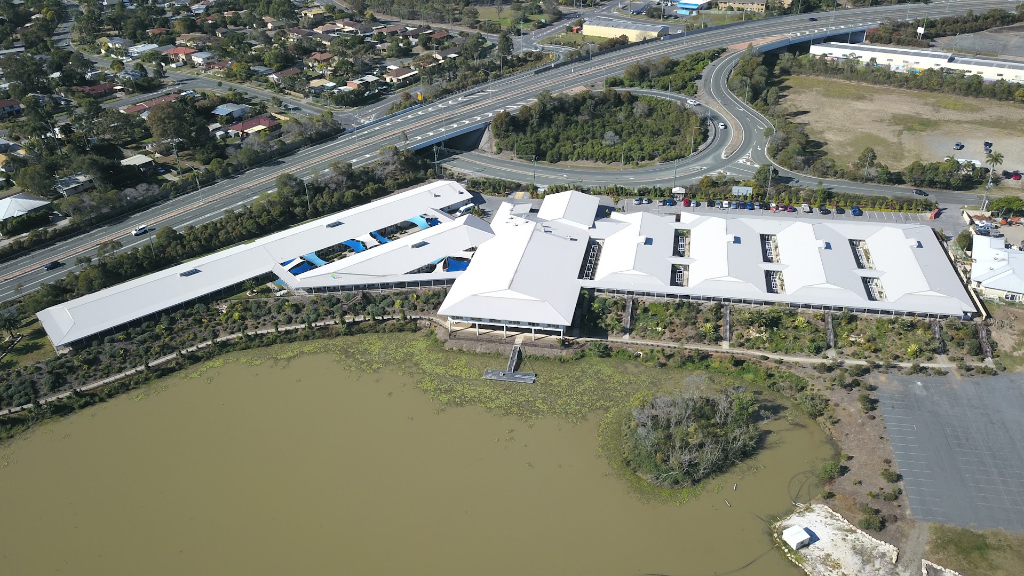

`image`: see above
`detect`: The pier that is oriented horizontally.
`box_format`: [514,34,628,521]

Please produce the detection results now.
[483,368,536,383]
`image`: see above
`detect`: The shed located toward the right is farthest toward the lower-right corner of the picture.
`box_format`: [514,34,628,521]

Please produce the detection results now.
[782,525,810,553]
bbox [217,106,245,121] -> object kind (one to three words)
house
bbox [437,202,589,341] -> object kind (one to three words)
building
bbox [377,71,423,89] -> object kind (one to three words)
house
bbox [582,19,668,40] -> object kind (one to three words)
building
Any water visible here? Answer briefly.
Yes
